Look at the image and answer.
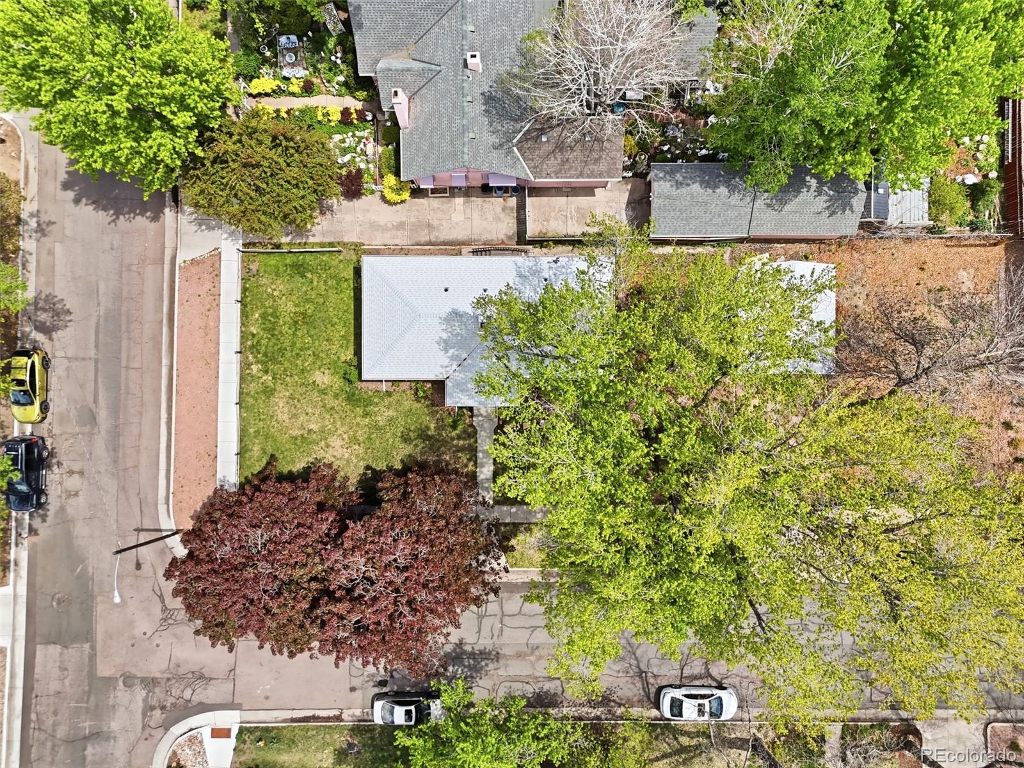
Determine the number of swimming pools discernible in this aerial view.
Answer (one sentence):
I count no swimming pools.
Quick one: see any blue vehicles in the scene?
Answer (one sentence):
No, I can see no blue vehicle in this picture.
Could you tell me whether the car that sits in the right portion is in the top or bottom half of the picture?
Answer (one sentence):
The car that sits in the right portion is in the bottom half of the image.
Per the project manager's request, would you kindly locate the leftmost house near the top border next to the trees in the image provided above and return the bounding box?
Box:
[351,0,624,197]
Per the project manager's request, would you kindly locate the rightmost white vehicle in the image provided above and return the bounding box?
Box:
[659,684,739,726]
